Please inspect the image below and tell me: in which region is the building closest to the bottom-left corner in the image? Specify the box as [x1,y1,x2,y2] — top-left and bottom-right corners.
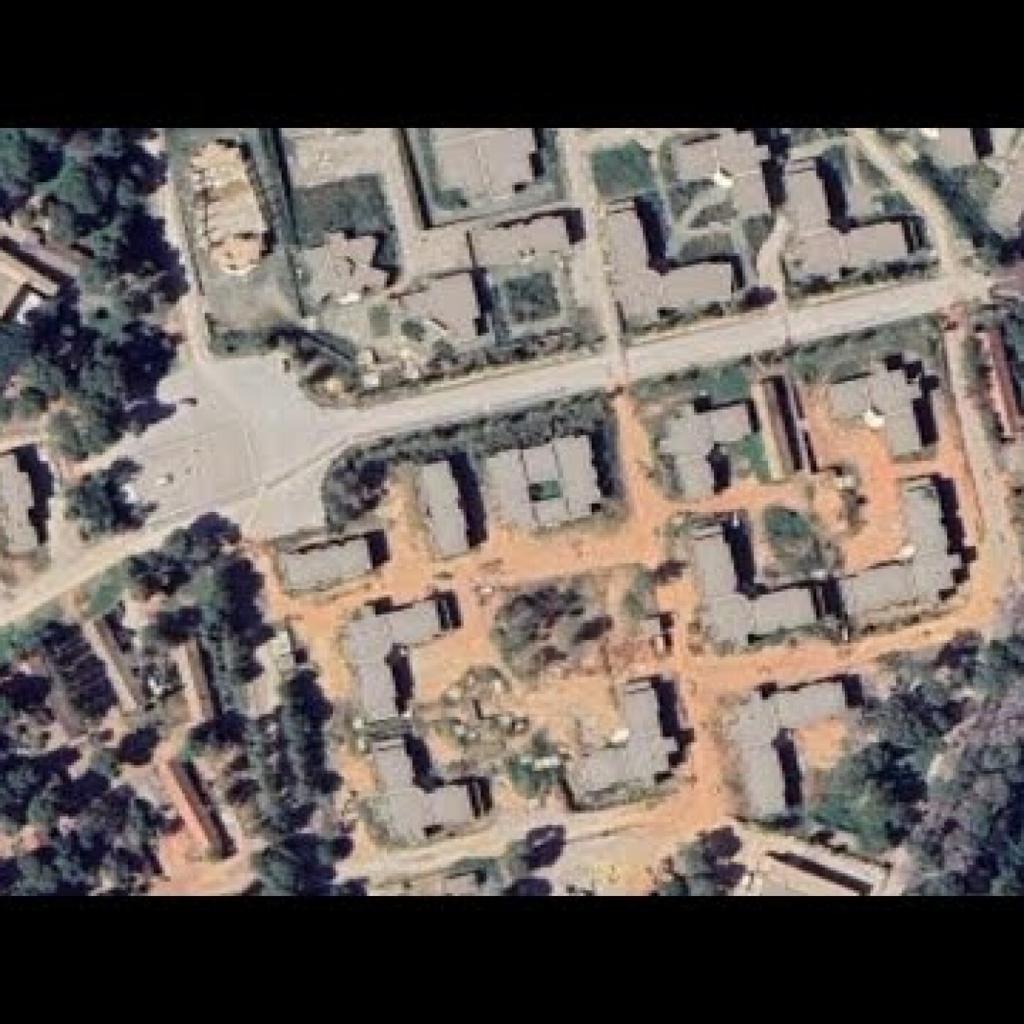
[158,757,224,859]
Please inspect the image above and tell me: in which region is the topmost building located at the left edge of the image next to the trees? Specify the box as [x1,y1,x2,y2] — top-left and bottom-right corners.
[0,252,56,318]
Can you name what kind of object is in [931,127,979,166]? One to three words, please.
house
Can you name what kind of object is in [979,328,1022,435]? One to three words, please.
building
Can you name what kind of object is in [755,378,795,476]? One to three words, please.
building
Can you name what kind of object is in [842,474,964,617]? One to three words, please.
house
